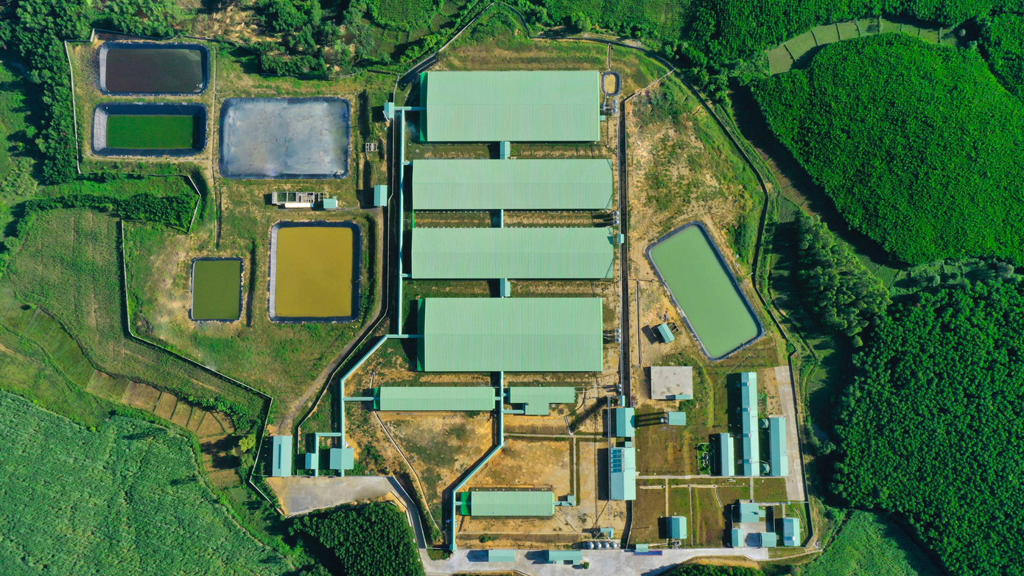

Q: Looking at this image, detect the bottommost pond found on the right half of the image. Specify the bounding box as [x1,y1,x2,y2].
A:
[649,223,763,359]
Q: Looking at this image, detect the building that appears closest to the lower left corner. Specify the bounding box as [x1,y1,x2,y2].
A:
[273,435,294,477]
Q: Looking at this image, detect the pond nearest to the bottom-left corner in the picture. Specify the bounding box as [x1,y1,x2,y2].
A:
[188,255,245,324]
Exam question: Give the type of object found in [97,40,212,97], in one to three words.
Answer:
pond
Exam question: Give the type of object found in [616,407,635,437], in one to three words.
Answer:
building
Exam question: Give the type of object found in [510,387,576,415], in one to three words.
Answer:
barn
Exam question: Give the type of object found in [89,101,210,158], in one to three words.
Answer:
pond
